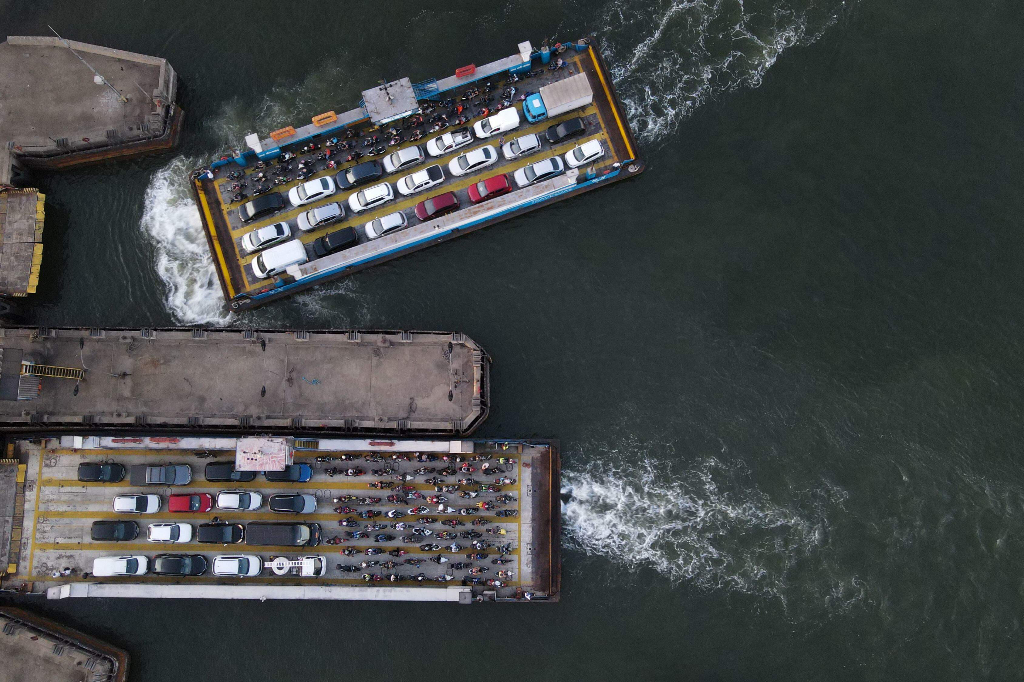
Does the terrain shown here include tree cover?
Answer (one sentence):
No, the picture contains no tree cover.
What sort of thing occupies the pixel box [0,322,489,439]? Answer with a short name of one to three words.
pier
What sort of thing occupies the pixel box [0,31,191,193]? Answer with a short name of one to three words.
pier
